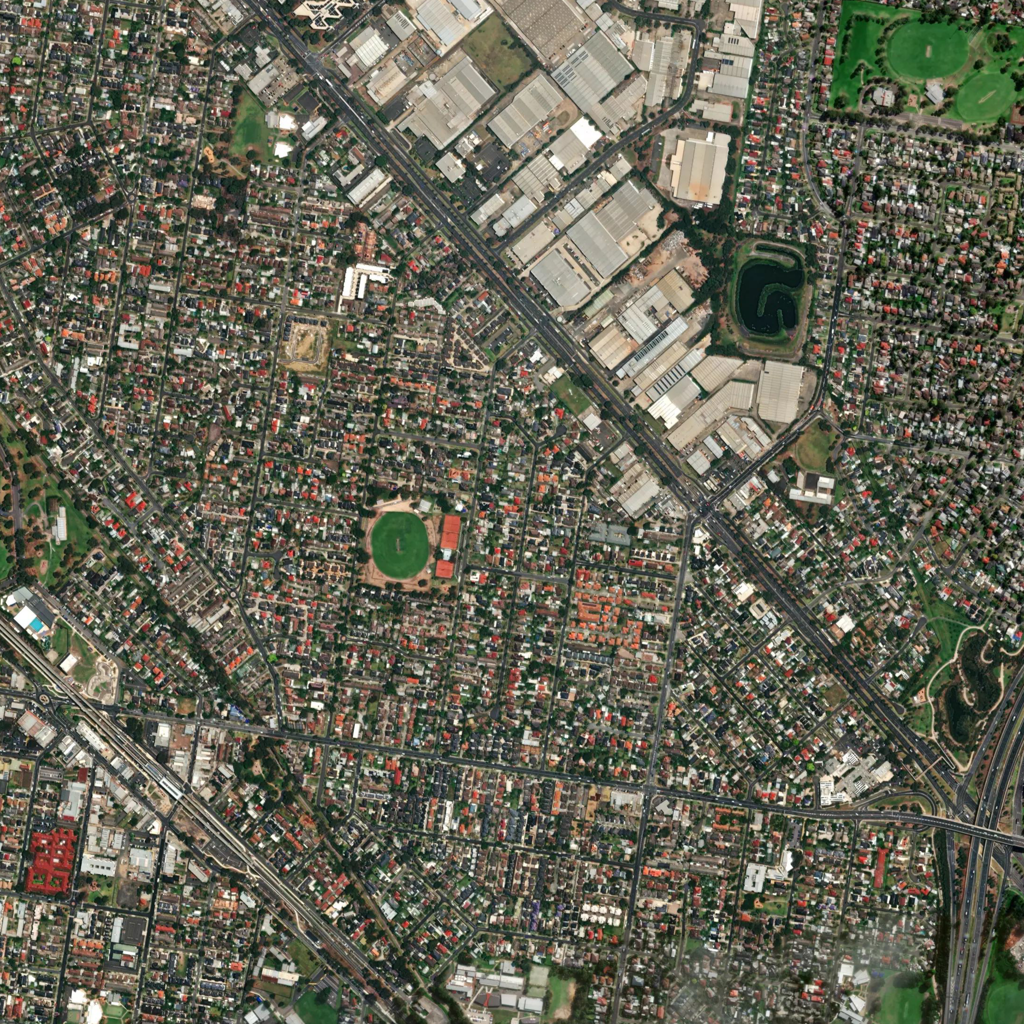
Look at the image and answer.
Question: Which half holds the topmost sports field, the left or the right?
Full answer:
The topmost sports field appears in the right half of the scene.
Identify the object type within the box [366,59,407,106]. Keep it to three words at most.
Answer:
building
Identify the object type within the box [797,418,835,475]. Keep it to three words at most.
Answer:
sports field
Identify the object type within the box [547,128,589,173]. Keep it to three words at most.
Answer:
building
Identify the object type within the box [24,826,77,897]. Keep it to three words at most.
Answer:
house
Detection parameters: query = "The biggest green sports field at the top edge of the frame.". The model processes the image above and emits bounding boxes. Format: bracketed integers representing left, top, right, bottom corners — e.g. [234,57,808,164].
[886,18,970,79]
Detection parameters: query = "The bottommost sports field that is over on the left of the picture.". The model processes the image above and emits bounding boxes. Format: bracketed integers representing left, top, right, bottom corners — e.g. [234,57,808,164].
[371,510,429,580]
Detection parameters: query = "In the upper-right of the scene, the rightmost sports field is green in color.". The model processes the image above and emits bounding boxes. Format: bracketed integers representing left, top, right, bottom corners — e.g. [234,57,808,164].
[956,72,1017,123]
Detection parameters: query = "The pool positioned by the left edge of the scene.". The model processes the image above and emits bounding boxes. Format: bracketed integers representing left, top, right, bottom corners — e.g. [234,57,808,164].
[30,616,50,635]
